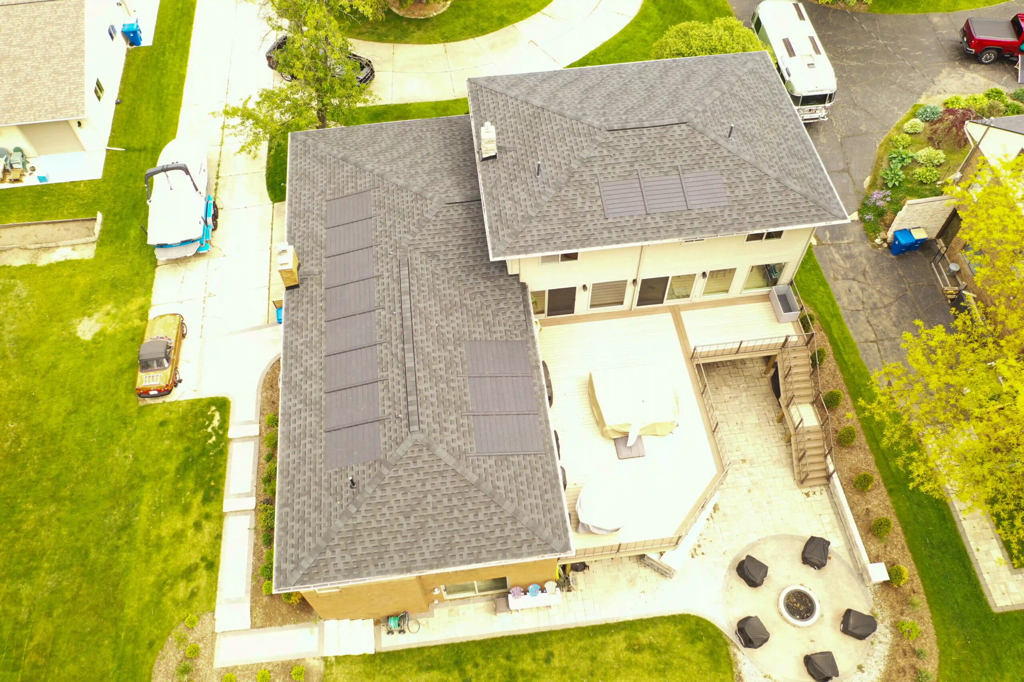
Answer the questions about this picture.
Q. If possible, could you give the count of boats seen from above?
1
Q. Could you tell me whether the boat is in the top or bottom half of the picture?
top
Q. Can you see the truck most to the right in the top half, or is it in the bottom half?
top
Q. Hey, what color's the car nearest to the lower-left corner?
yellow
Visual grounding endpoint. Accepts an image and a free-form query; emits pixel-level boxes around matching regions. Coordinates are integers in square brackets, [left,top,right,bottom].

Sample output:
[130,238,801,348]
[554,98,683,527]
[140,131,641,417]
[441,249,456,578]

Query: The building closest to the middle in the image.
[264,49,852,617]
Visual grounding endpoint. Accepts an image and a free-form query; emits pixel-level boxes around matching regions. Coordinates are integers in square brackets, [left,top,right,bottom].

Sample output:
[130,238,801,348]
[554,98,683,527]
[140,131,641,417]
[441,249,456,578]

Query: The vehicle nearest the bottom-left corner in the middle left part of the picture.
[135,311,194,396]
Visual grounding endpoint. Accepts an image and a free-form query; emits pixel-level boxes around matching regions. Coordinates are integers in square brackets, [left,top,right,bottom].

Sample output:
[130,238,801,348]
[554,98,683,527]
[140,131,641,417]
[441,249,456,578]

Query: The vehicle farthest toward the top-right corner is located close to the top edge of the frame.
[961,17,1024,69]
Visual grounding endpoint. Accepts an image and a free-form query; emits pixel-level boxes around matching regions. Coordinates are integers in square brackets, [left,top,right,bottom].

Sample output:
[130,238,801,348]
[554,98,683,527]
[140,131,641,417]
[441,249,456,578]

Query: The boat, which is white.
[143,137,209,261]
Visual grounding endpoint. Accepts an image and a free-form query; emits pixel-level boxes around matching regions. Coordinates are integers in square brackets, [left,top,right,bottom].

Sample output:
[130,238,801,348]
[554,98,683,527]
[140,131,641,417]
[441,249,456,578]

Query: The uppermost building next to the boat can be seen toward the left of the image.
[0,0,141,158]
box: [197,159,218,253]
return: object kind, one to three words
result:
trailer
